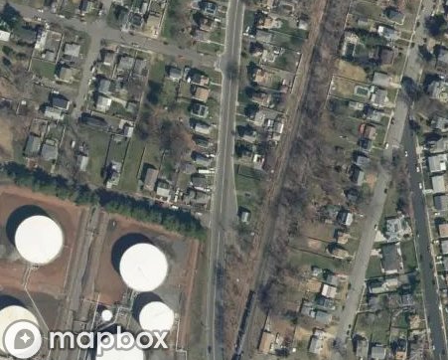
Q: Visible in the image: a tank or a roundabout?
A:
tank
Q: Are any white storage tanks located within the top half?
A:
No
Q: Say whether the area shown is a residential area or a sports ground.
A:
residential area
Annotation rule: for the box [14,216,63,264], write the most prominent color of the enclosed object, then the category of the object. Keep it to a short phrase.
white storage tank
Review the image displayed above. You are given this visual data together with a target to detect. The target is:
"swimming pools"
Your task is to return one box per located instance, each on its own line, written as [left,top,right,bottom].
[344,41,356,55]
[354,85,370,98]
